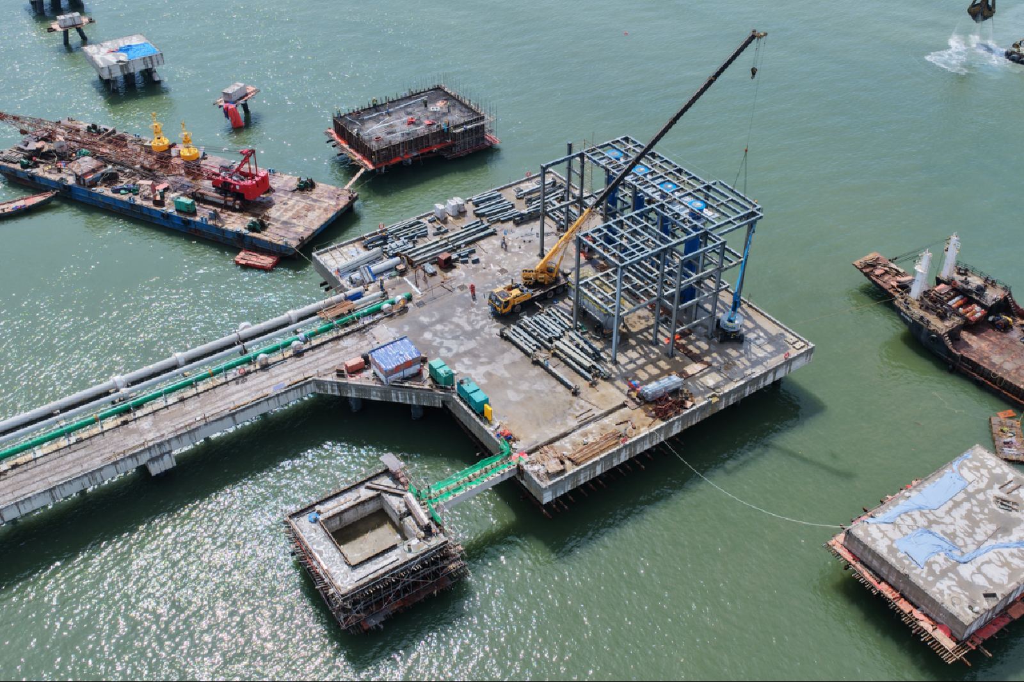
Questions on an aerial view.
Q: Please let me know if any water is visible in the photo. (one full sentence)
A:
Yes, some water is visible.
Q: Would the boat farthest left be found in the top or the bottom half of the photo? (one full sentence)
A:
The boat farthest left is in the top half of the image.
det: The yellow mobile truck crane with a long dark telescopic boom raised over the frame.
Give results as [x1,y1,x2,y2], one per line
[482,34,769,316]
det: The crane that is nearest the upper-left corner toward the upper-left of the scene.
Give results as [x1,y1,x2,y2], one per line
[0,109,274,210]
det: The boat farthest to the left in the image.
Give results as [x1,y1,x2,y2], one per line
[0,185,59,220]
